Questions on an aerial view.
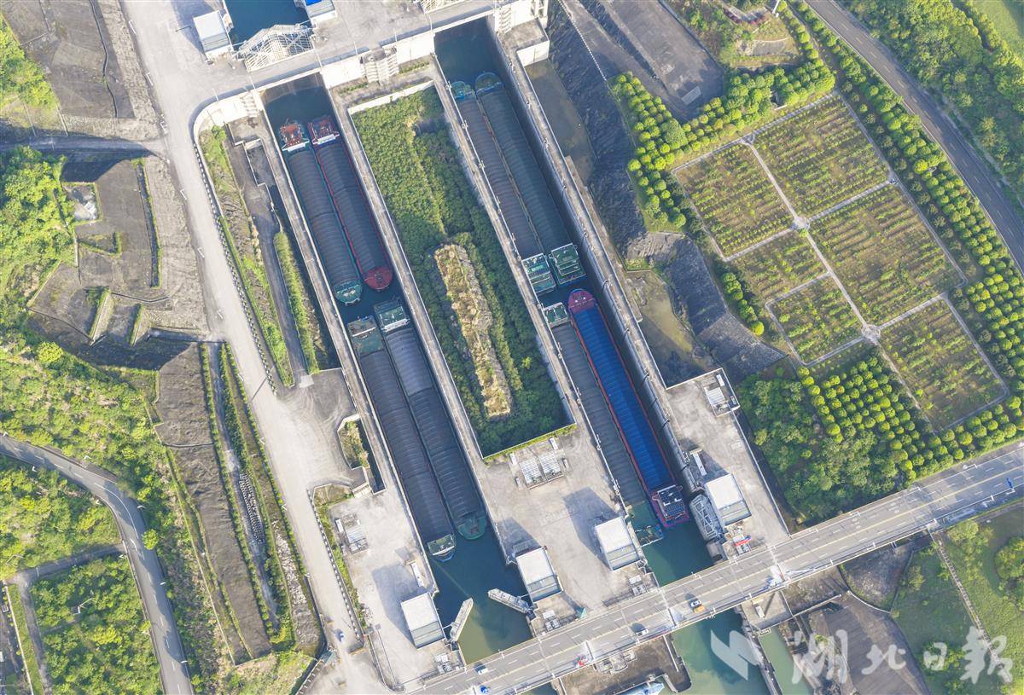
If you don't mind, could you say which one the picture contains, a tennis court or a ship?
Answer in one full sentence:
The image shows a ship.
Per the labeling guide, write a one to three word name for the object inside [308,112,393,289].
ship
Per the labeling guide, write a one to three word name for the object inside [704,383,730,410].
building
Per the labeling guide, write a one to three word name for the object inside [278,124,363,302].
ship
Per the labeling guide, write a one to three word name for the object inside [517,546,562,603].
building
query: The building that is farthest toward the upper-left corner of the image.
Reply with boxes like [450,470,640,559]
[188,0,231,51]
